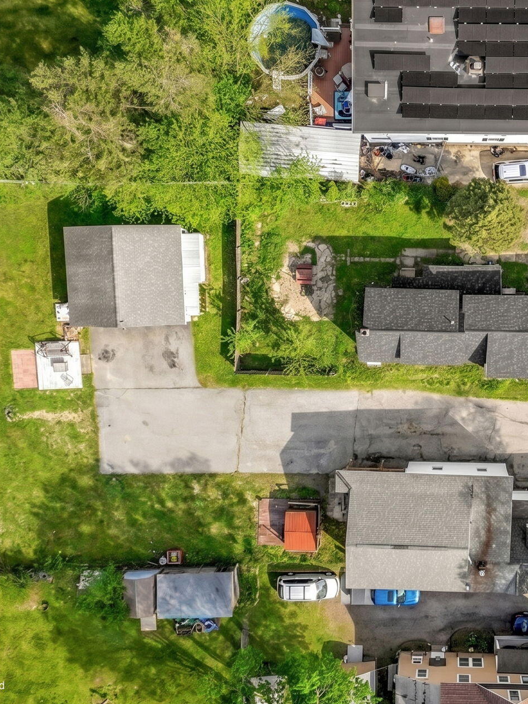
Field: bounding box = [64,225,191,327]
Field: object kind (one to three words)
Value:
building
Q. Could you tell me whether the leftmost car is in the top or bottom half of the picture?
bottom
